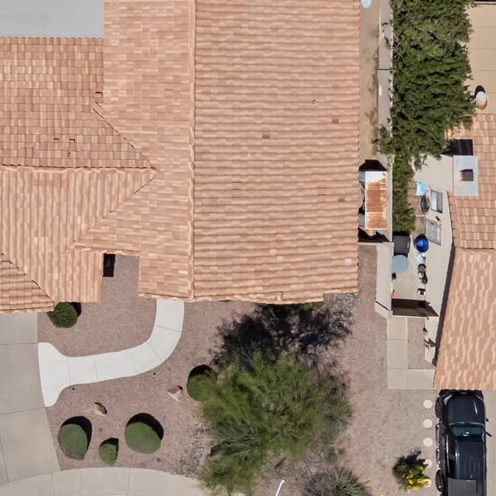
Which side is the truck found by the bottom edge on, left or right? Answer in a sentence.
The truck found by the bottom edge sits on the right side.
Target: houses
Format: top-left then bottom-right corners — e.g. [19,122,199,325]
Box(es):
[420,1,496,392]
[0,0,362,311]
